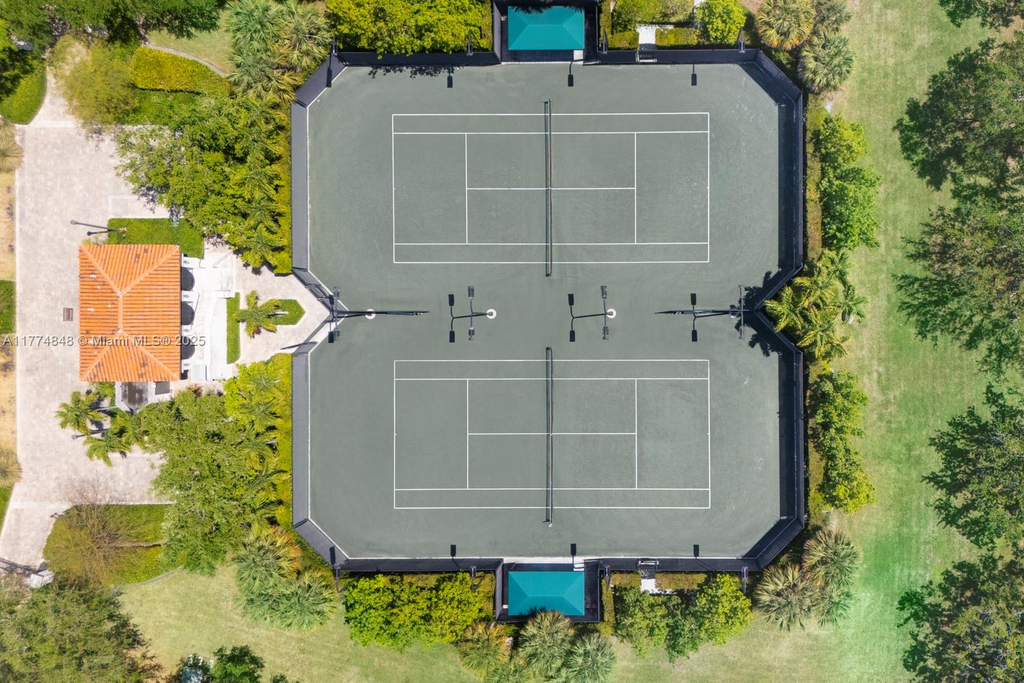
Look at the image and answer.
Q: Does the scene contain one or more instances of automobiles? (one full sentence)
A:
No, I find no automobile anywhere in the image.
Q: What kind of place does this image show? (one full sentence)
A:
The picture captures a sports ground.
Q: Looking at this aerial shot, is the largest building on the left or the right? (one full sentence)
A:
The largest building sits on the left side.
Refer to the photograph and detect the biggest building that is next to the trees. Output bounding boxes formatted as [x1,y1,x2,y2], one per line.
[76,243,198,415]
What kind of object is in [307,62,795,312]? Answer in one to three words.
tennis court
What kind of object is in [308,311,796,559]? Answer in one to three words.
tennis court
